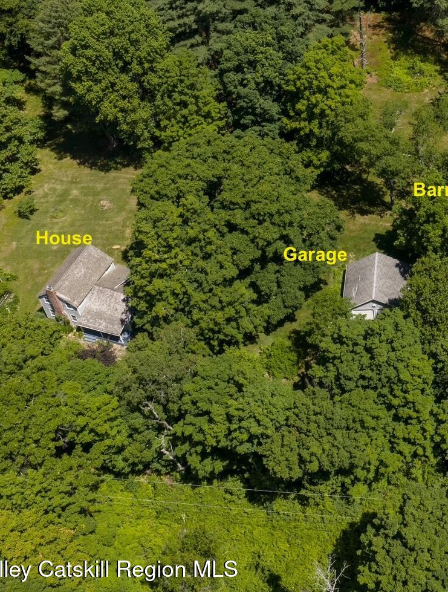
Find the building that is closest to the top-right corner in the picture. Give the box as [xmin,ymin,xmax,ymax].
[340,252,409,323]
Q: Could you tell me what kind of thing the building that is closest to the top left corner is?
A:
home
